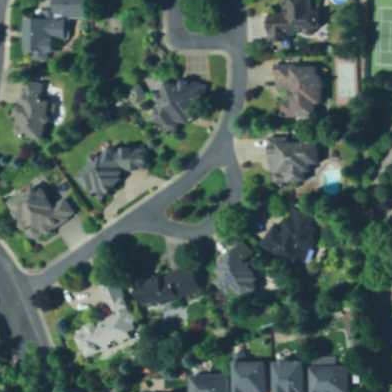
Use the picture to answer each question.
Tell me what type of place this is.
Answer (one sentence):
The area seen from above is a residential area.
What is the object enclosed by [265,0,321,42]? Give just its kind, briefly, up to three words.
house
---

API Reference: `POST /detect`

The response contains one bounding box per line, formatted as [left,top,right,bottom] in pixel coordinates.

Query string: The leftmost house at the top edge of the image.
[21,0,84,60]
